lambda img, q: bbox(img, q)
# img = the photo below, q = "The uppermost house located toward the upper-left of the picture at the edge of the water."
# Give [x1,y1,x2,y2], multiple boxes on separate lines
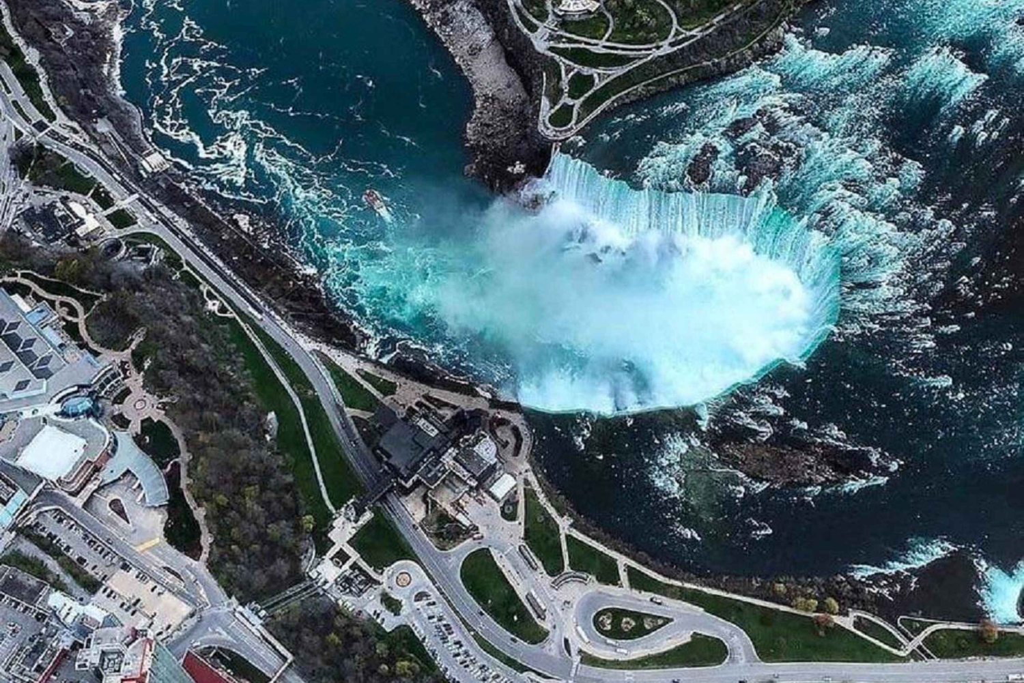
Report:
[144,152,174,170]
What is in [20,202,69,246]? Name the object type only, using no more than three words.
building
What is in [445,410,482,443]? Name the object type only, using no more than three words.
building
